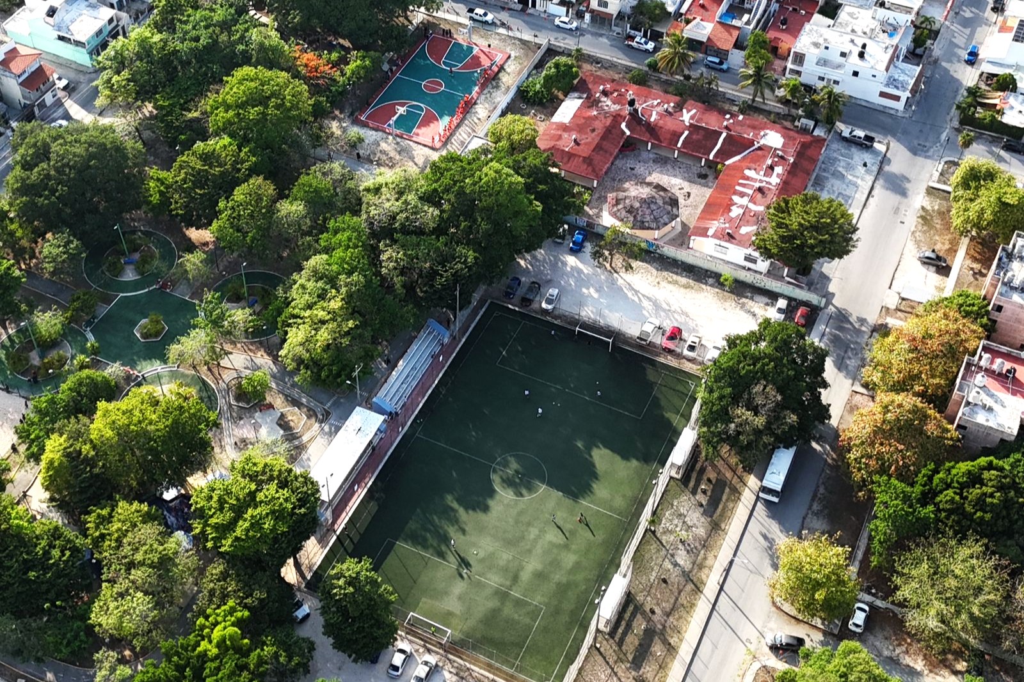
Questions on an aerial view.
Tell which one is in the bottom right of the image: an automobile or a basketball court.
automobile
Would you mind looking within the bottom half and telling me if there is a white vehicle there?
Yes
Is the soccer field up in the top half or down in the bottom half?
bottom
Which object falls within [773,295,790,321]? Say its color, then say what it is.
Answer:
white car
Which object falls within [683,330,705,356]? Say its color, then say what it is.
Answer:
white car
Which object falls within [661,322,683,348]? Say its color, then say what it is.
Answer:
red car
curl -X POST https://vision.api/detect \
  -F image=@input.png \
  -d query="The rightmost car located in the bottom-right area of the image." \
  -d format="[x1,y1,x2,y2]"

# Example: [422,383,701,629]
[848,599,872,632]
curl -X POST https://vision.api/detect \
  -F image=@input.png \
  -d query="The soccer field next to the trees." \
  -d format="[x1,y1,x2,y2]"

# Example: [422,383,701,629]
[308,301,705,682]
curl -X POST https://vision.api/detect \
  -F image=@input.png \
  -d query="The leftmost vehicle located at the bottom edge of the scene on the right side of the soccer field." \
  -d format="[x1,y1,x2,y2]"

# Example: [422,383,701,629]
[765,628,806,652]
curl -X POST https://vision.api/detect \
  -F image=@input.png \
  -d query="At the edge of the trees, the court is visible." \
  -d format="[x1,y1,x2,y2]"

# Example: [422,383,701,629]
[349,29,511,150]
